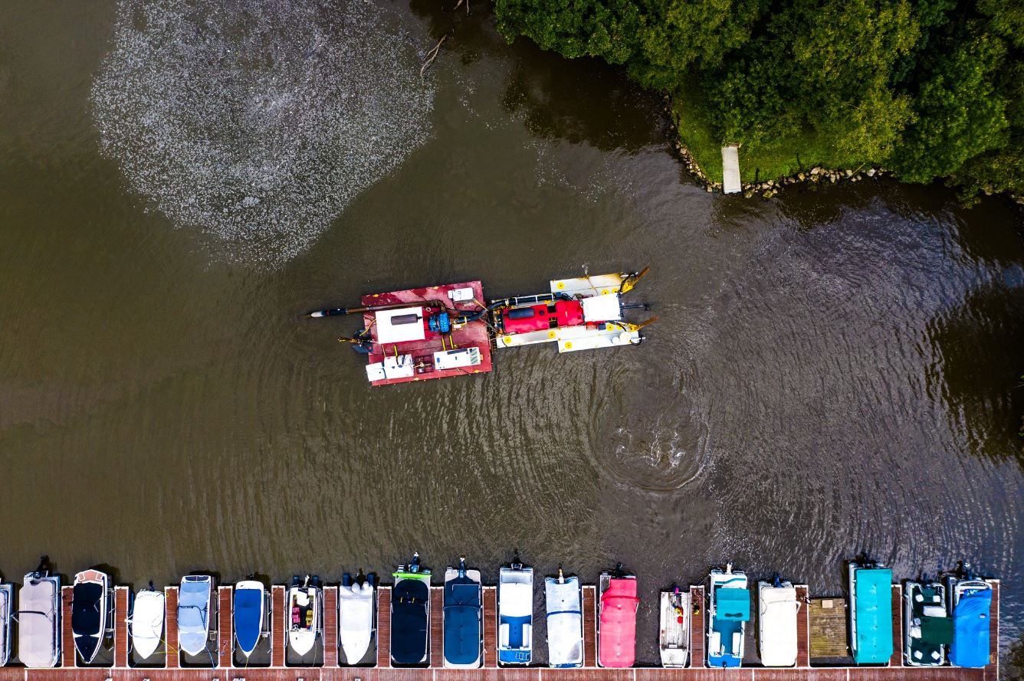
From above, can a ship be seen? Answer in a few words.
Yes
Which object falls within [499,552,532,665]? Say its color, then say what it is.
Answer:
white boat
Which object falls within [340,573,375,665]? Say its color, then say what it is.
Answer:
white boat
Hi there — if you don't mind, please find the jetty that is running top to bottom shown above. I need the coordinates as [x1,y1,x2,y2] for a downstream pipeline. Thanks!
[719,142,742,197]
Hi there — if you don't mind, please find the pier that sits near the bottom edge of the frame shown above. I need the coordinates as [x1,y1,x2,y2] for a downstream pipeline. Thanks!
[0,576,999,681]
